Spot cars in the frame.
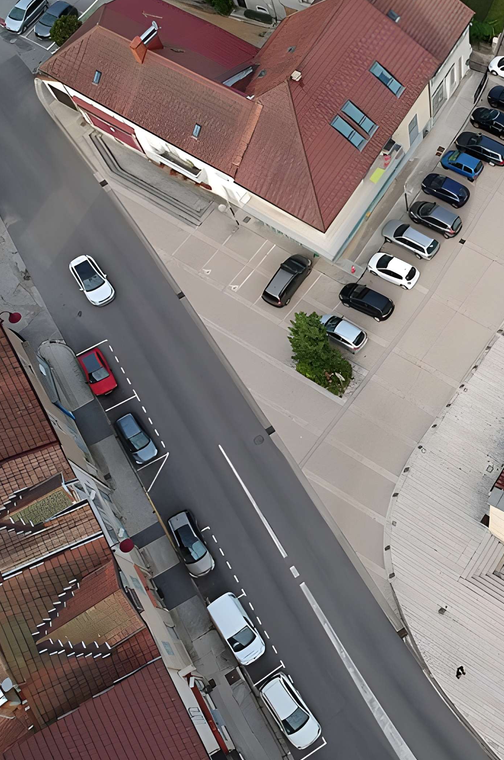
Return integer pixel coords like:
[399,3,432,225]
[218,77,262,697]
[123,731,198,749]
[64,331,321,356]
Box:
[365,254,423,291]
[113,410,160,466]
[317,312,372,354]
[469,109,504,140]
[419,176,472,209]
[68,254,117,307]
[439,150,486,182]
[454,133,504,167]
[164,509,216,580]
[74,346,119,398]
[486,91,504,111]
[487,59,504,81]
[337,281,398,323]
[258,255,314,309]
[406,200,464,239]
[380,224,444,263]
[259,669,321,751]
[7,0,51,35]
[35,0,77,43]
